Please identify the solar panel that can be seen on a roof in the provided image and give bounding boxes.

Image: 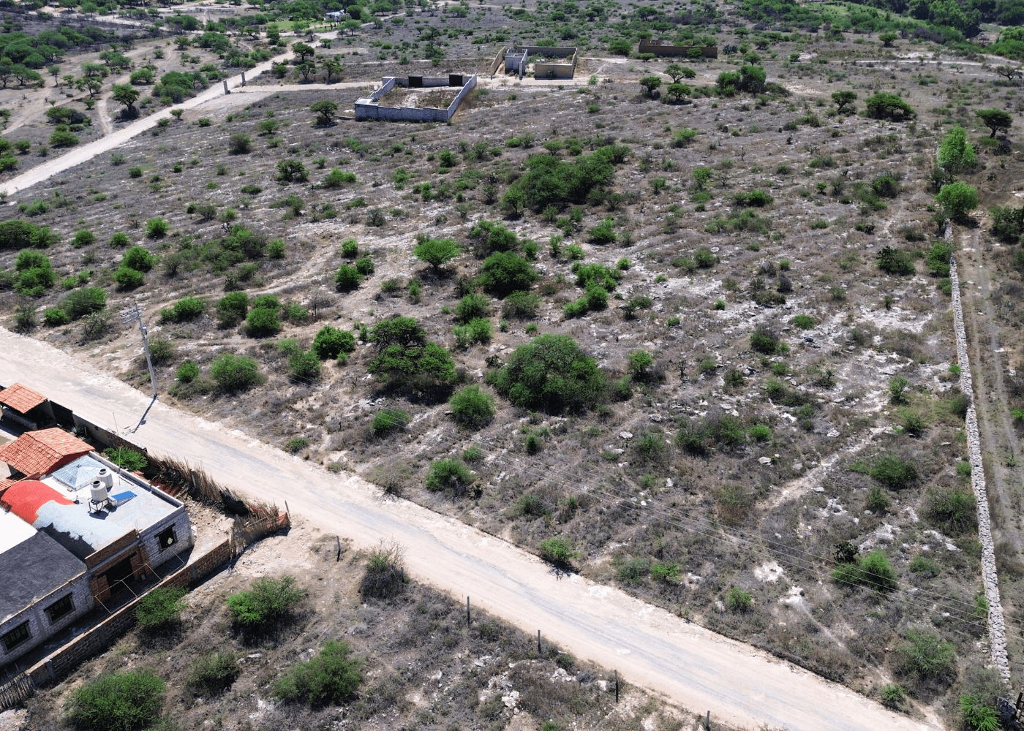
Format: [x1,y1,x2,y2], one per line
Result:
[113,490,137,509]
